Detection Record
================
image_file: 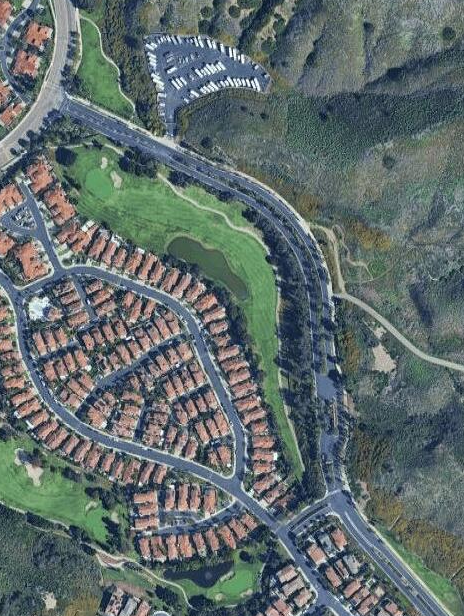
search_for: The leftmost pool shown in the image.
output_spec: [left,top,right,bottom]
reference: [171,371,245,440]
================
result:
[28,297,50,320]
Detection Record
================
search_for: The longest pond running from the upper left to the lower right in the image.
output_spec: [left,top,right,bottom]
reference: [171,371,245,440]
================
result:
[168,237,249,302]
